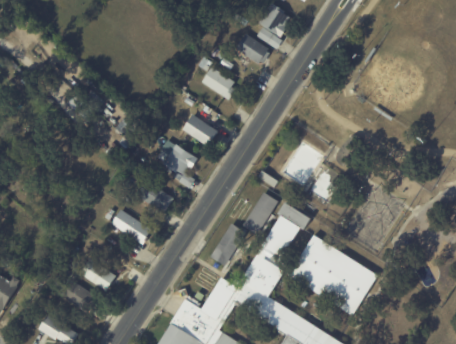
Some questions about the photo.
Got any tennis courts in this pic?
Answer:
Yes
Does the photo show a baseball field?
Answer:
Yes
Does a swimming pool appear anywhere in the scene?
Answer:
Yes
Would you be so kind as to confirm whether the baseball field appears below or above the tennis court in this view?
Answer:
above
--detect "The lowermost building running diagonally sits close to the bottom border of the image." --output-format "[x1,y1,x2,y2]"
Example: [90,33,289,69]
[40,316,76,344]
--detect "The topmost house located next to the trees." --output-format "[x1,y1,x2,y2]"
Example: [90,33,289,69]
[262,6,290,37]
